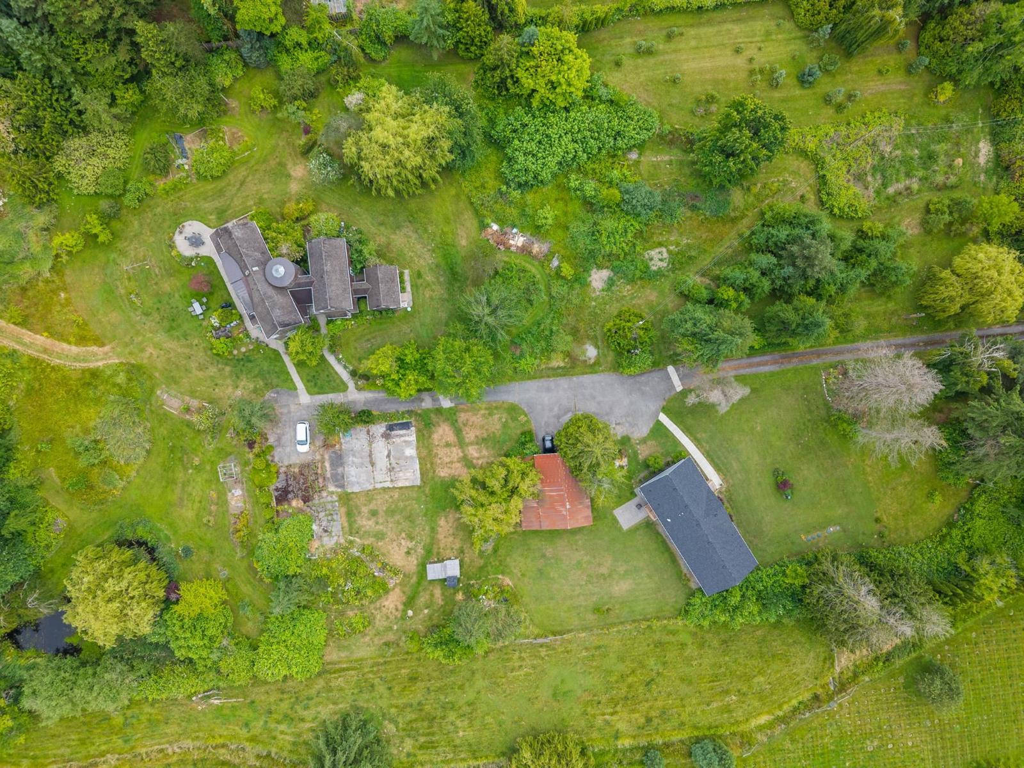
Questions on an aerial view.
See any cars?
Yes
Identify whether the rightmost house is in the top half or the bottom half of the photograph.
bottom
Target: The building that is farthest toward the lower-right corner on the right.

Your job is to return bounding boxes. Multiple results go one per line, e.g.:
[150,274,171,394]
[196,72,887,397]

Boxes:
[634,455,758,596]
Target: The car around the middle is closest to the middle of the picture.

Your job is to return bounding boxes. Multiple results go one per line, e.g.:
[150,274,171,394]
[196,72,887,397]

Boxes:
[541,431,557,454]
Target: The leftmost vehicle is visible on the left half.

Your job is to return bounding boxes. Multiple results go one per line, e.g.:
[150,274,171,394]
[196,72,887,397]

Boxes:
[293,422,309,453]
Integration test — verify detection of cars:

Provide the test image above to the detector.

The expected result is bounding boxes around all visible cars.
[293,422,309,453]
[541,431,557,454]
